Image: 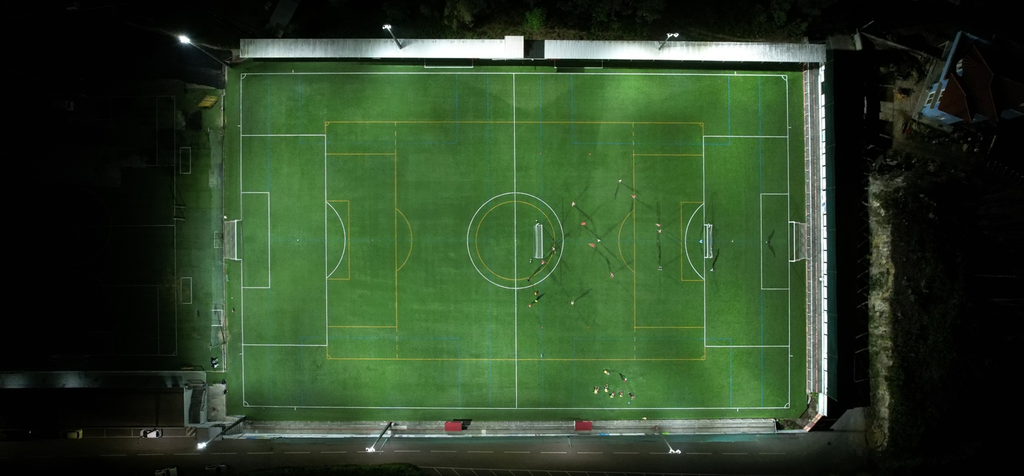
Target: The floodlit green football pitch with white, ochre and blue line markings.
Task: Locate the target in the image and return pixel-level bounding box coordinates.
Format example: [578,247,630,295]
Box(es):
[225,60,806,422]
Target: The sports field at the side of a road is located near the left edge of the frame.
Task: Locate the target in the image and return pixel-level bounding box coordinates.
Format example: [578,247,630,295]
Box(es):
[0,88,224,371]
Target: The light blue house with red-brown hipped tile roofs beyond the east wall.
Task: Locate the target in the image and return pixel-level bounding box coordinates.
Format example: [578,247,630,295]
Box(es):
[925,31,1024,128]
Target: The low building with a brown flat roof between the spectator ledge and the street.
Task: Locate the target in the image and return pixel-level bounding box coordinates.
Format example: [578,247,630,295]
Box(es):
[0,385,191,426]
